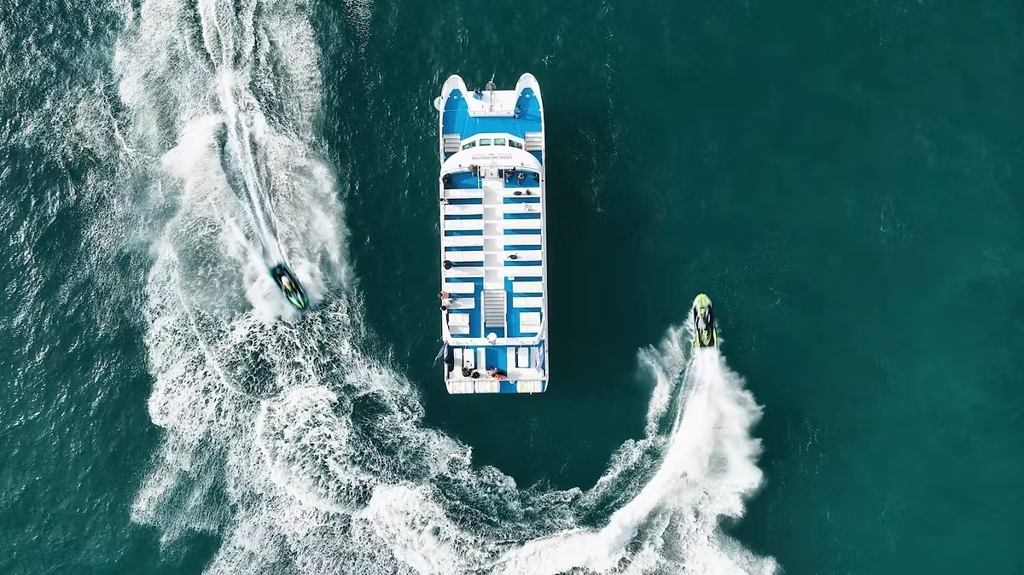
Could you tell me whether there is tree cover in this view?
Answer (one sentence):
No, there's no tree cover in this view.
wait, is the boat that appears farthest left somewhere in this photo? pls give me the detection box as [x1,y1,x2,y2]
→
[270,262,307,311]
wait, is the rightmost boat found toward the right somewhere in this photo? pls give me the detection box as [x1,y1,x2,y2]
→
[694,294,715,349]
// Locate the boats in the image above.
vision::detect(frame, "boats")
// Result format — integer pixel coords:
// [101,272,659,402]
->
[434,69,550,395]
[270,262,307,311]
[694,294,715,349]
